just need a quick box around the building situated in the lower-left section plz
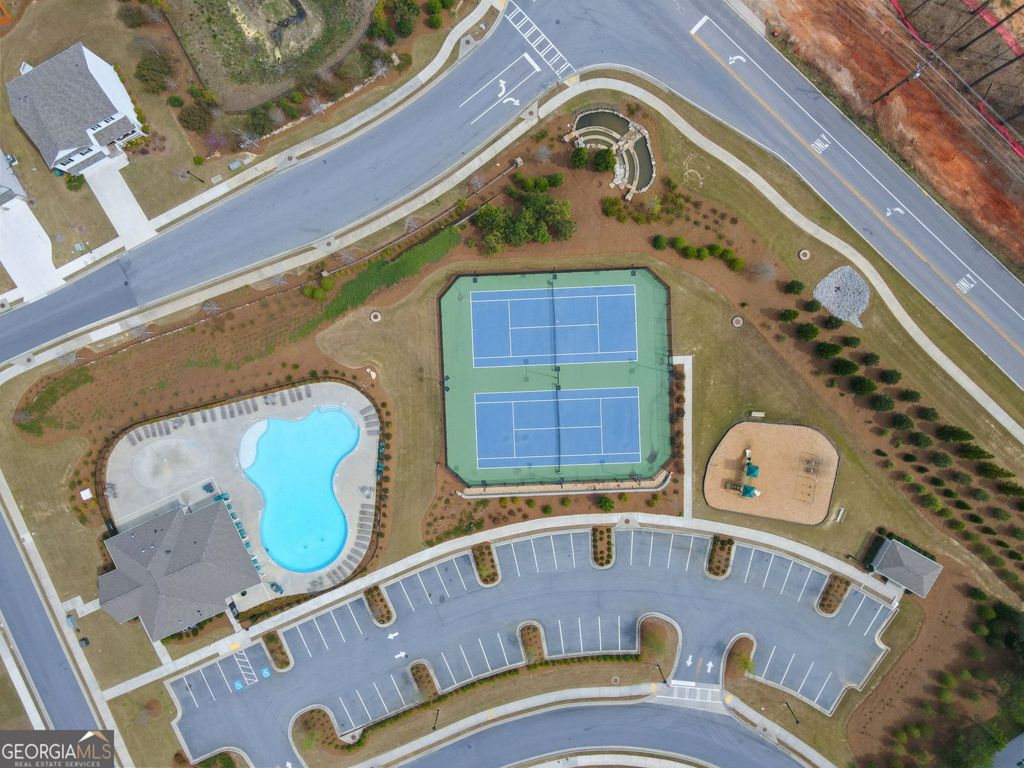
[97,498,267,643]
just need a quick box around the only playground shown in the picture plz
[702,420,842,526]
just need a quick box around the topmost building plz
[6,41,148,179]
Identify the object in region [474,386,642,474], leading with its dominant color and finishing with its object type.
blue tennis court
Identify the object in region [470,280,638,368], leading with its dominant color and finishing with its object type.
blue tennis court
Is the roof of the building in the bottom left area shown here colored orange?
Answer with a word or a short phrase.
No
